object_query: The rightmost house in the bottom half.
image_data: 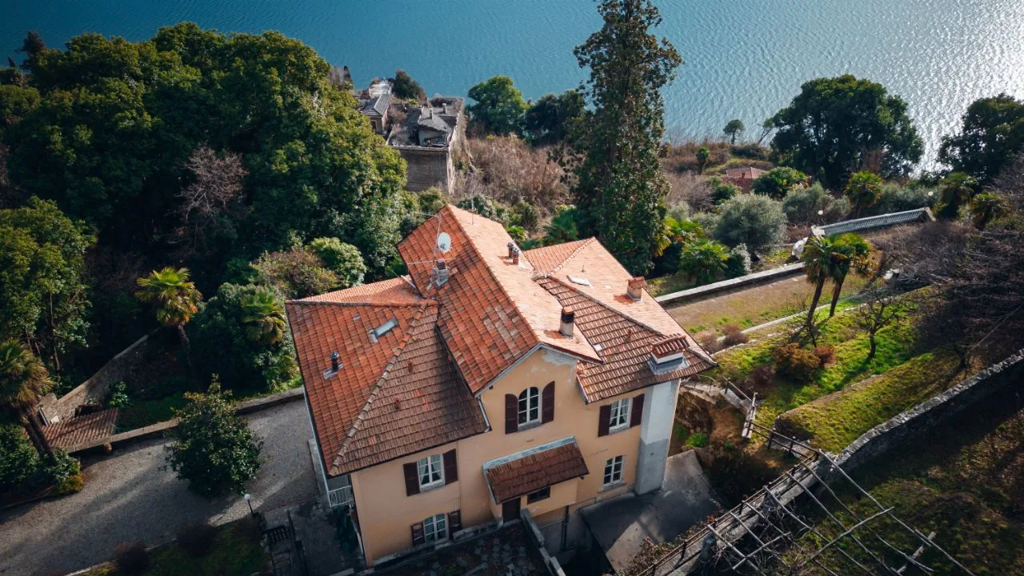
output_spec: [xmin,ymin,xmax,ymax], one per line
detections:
[284,194,720,566]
